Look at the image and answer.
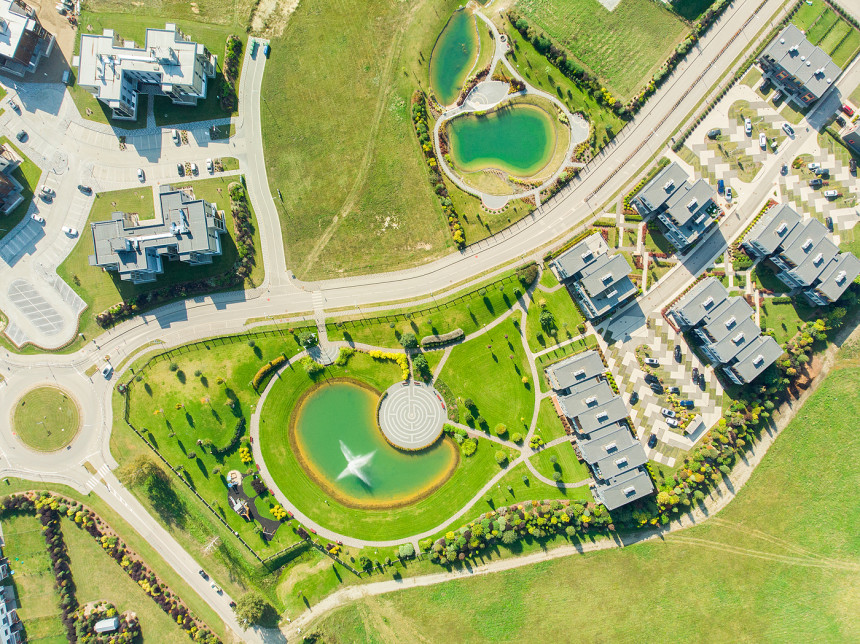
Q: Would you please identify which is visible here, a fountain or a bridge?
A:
fountain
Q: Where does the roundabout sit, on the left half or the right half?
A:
left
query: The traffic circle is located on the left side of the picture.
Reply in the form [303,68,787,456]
[0,364,103,474]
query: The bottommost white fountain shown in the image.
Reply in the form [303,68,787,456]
[336,440,377,487]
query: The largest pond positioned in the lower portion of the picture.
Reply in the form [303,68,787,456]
[292,380,459,507]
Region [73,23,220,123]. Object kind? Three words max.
building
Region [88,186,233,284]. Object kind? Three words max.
building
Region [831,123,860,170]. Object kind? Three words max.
house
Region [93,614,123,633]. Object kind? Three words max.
shed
